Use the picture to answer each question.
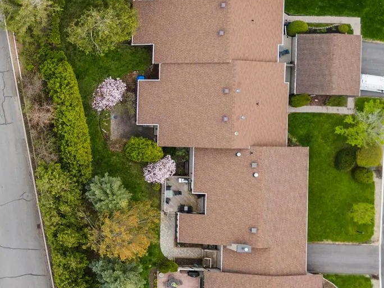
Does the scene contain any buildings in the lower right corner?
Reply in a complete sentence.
No, no building can be made out in the lower right corner.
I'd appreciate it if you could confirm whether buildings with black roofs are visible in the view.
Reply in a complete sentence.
No, the frame has no building with a black roof in it.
